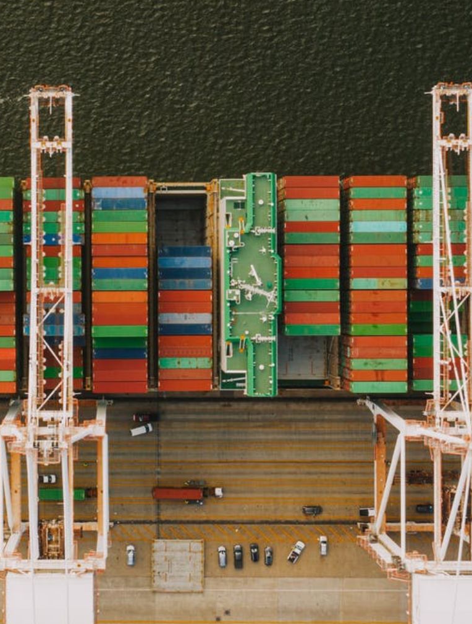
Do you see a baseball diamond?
No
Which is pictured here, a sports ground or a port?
port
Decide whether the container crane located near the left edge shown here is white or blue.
white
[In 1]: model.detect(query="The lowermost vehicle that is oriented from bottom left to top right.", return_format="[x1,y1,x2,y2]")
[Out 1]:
[286,540,305,563]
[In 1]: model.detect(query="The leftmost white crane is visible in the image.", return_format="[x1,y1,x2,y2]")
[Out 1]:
[0,82,112,624]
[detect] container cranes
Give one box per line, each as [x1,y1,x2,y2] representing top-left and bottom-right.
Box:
[353,81,472,624]
[0,82,112,624]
